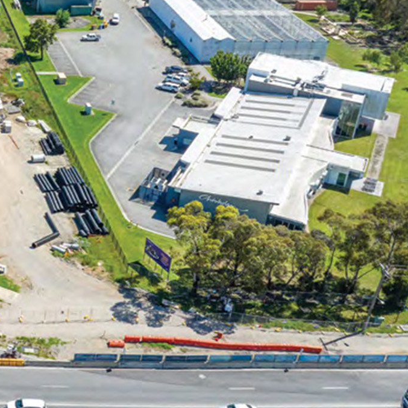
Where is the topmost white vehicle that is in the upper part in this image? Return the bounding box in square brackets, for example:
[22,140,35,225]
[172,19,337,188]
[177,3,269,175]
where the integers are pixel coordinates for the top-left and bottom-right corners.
[108,12,123,26]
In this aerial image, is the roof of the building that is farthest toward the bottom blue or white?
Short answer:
white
